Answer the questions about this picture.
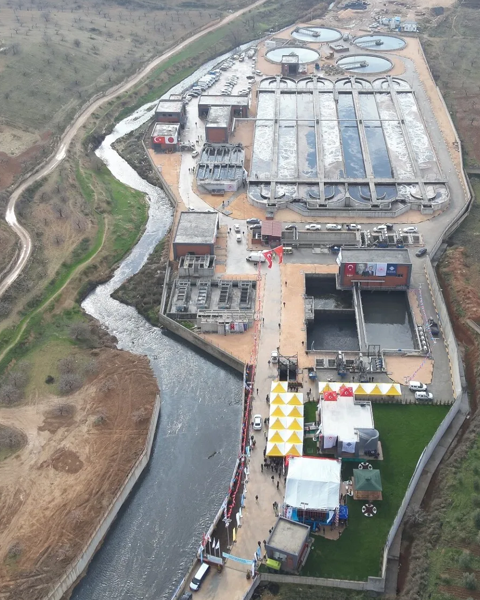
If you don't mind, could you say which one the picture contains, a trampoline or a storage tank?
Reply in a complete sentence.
Of the two, only a storage tank appears.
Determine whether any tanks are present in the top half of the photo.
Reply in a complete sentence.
Yes, there is a tank in the top half of the photo.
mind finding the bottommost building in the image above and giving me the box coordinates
[262,517,318,575]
